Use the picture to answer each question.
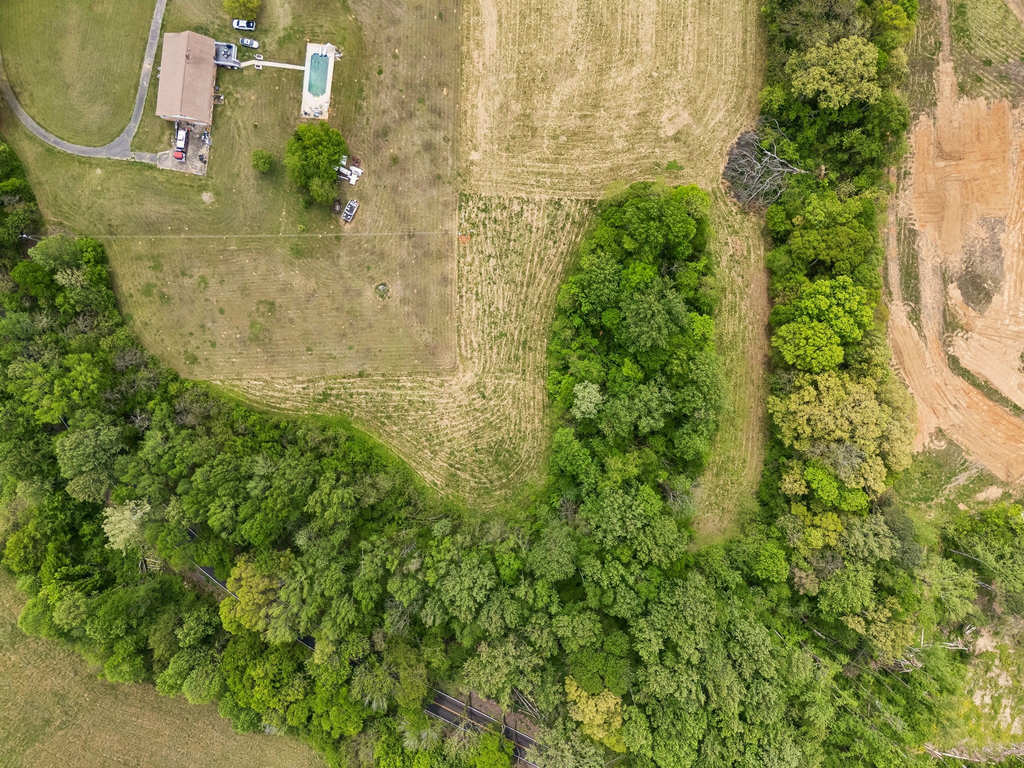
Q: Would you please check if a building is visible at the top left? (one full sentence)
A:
Yes, looking at the top left, one can make out a building.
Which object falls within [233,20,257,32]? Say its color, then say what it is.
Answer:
white vehicle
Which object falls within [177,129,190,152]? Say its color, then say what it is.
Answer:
white vehicle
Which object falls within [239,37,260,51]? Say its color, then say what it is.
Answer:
white car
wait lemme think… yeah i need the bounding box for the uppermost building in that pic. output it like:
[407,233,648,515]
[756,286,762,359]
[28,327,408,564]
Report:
[156,32,217,125]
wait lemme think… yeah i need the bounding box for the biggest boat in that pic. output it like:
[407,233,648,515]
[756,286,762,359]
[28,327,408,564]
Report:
[341,200,359,222]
